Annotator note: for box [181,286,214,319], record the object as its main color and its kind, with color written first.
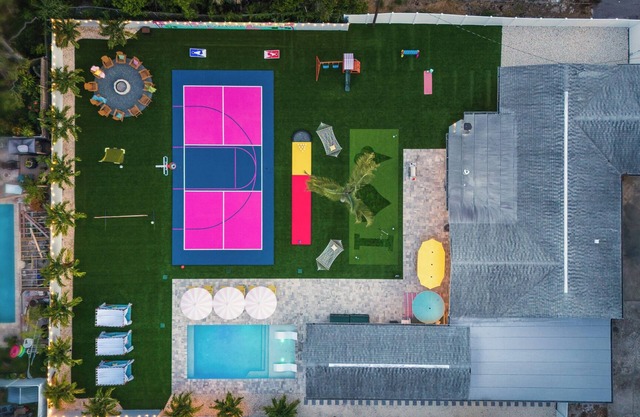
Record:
white umbrella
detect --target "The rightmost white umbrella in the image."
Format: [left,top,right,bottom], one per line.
[245,286,277,319]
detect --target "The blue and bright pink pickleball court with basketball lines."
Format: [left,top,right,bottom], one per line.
[172,70,274,265]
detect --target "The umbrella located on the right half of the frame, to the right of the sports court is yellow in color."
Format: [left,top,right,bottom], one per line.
[417,238,445,289]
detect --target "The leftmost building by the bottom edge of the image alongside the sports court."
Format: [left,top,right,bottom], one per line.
[306,321,472,403]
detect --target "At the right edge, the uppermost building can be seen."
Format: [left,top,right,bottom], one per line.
[445,64,640,318]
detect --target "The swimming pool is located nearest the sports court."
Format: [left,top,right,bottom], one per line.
[185,323,298,382]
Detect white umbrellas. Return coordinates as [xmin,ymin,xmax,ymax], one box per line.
[245,286,277,319]
[213,286,245,319]
[181,286,214,319]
